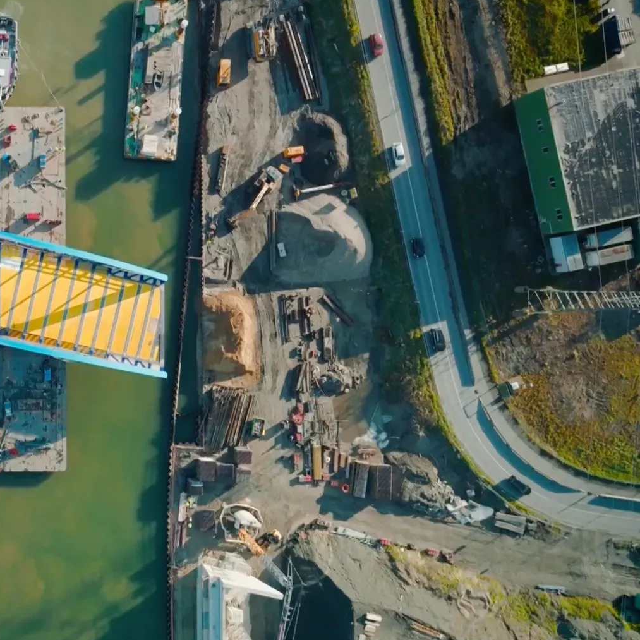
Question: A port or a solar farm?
port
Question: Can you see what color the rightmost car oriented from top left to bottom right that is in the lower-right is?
black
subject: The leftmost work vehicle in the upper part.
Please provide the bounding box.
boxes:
[229,157,290,230]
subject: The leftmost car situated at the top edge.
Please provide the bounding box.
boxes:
[366,32,382,60]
